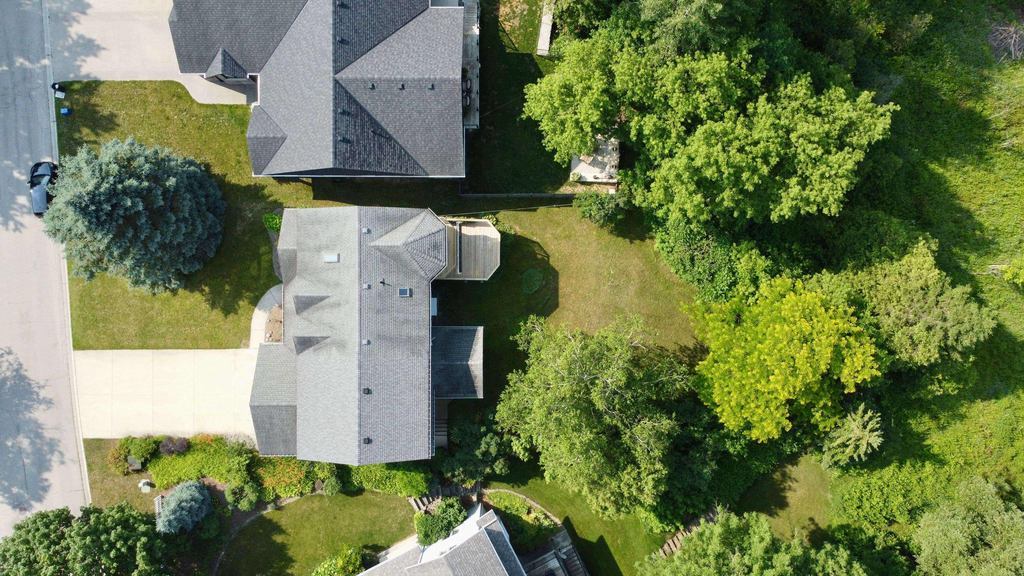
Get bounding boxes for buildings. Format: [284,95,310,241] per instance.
[251,205,483,465]
[350,500,528,576]
[162,0,464,180]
